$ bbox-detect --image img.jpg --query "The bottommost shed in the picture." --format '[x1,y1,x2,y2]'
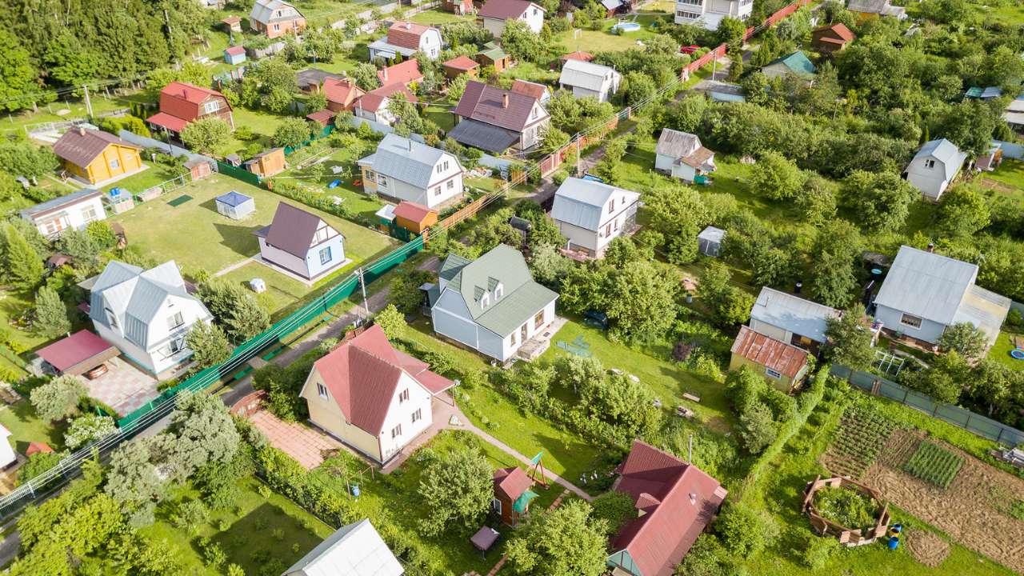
[280,518,404,576]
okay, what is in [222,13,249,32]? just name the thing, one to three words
shed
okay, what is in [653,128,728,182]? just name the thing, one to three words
house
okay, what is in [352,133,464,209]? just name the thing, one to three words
house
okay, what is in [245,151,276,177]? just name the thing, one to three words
shed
